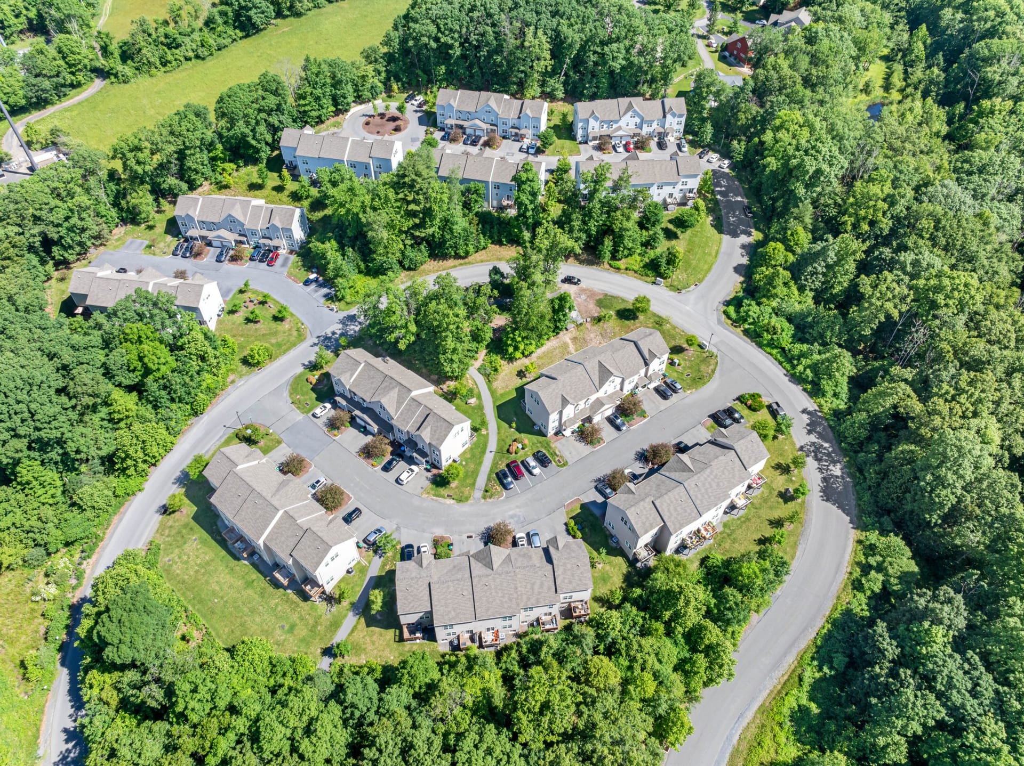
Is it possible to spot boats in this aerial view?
No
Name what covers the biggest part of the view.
trees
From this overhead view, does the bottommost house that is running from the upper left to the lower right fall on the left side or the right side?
left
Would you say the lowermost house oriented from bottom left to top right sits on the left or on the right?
right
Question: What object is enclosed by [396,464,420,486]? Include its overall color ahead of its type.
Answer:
white car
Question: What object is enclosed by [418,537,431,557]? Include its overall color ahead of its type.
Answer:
white vehicle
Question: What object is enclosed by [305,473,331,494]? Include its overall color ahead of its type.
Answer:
white car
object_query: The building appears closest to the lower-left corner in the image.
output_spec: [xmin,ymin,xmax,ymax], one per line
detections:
[202,442,359,606]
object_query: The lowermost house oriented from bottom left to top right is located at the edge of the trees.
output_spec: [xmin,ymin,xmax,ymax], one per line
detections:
[606,422,775,571]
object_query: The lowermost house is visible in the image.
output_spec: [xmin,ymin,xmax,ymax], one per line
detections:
[395,535,594,654]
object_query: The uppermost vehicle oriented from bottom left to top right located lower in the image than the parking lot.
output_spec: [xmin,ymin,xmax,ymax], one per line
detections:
[310,401,334,420]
